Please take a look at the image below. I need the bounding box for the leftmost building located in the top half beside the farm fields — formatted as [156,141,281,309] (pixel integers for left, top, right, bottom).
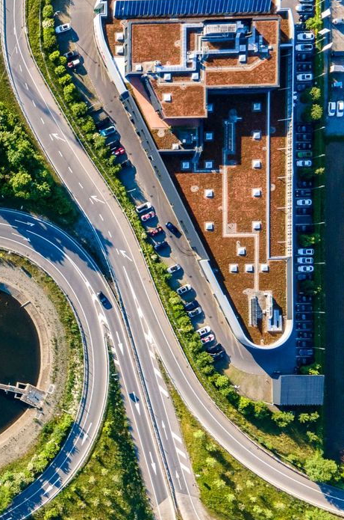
[91,0,295,351]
